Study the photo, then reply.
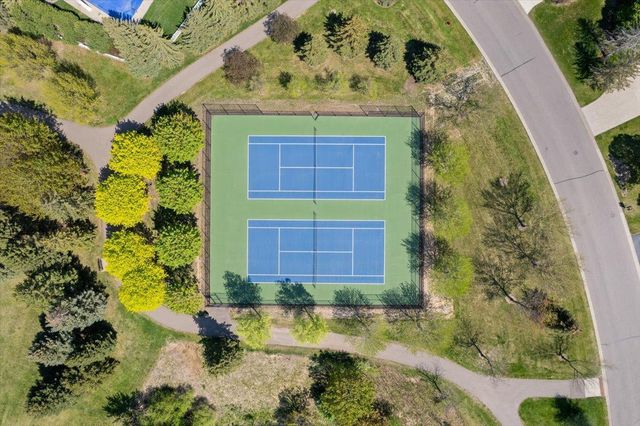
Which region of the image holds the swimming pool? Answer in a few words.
top left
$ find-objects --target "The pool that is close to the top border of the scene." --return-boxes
[64,0,152,25]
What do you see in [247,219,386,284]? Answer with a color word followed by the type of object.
blue tennis court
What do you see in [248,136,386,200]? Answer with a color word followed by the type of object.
blue tennis court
